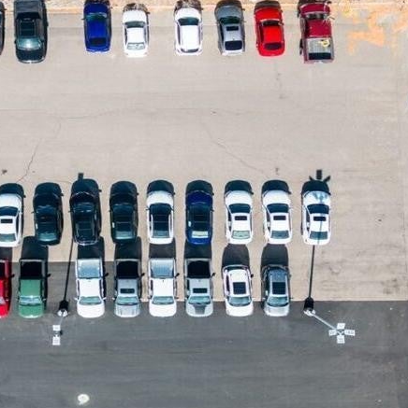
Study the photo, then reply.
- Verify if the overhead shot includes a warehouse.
No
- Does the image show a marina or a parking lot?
parking lot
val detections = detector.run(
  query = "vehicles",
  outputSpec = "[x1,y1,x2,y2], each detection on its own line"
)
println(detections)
[300,188,334,244]
[299,1,336,63]
[82,2,113,53]
[223,265,255,318]
[174,6,205,55]
[121,9,151,55]
[14,256,48,319]
[13,0,48,61]
[262,191,295,245]
[184,190,215,244]
[70,190,102,244]
[254,4,287,57]
[224,191,256,245]
[112,256,144,319]
[261,265,294,318]
[109,191,140,245]
[215,2,247,55]
[145,190,177,244]
[32,191,63,245]
[147,256,180,319]
[74,256,108,319]
[0,191,24,245]
[184,256,216,319]
[0,256,11,319]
